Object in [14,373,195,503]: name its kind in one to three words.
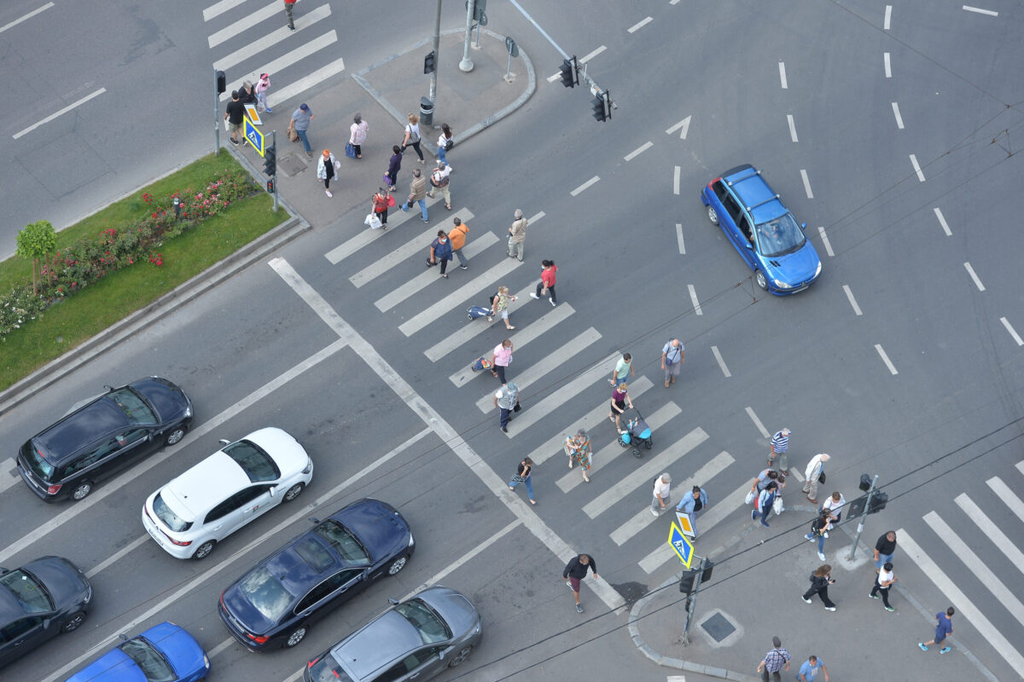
car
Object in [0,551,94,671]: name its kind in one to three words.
car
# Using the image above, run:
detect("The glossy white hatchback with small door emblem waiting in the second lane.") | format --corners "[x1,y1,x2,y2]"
[135,425,311,561]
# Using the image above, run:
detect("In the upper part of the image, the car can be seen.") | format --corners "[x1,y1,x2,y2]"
[704,161,824,296]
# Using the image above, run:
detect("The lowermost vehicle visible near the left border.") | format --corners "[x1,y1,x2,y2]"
[42,617,203,682]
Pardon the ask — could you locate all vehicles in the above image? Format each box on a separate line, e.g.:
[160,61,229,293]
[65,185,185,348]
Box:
[42,617,203,682]
[704,161,824,296]
[215,498,413,654]
[135,425,311,561]
[0,551,94,671]
[296,585,480,682]
[14,373,195,503]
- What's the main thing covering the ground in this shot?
paved ground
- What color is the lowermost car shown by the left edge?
blue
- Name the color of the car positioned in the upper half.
blue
